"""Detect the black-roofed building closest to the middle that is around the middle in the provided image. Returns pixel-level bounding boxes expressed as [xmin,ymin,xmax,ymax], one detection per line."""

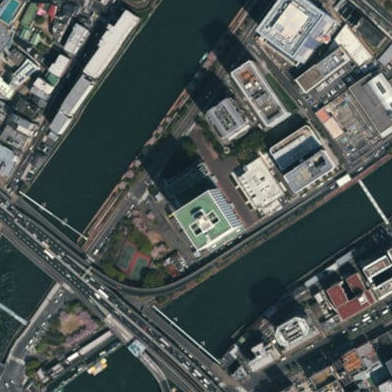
[155,155,202,198]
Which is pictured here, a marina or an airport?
marina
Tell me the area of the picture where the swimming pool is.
top left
